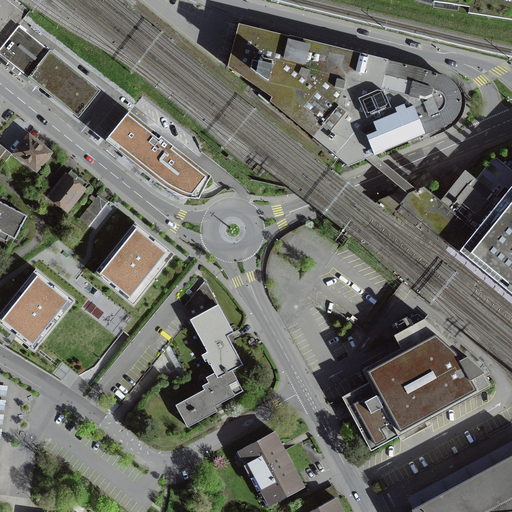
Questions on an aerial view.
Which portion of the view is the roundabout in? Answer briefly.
center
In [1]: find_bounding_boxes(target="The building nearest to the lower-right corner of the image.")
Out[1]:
[407,439,512,512]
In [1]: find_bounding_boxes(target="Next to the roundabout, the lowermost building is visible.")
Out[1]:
[176,280,242,427]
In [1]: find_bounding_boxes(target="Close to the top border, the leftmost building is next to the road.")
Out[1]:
[0,25,47,76]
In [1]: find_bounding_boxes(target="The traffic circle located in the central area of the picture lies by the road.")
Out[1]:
[201,198,265,262]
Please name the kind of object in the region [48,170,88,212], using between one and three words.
house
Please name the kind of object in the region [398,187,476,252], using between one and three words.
building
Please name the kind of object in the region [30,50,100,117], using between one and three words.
building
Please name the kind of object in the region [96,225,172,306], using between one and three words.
house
